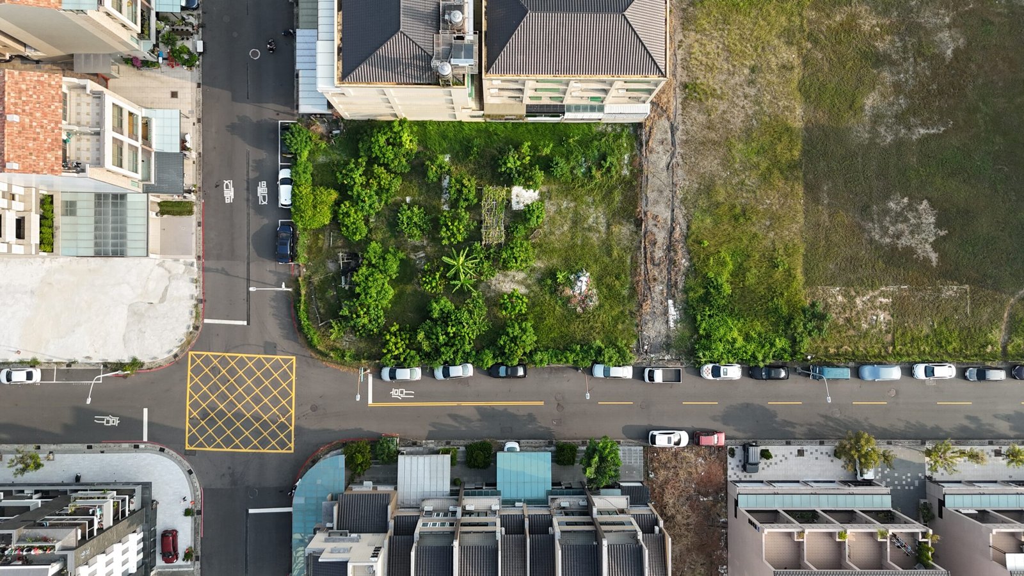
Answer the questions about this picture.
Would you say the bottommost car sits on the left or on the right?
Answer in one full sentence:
You can find the bottommost car on the left side of the picture.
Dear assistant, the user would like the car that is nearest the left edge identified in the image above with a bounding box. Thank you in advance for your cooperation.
[2,367,44,386]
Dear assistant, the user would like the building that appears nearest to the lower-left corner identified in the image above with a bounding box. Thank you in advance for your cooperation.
[0,485,156,576]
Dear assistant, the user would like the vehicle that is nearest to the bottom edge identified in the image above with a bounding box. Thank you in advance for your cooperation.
[159,527,180,562]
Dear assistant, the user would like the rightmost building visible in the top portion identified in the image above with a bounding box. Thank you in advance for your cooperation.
[481,0,668,121]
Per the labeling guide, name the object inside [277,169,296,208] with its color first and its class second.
white car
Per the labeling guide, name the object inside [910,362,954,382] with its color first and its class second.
white car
